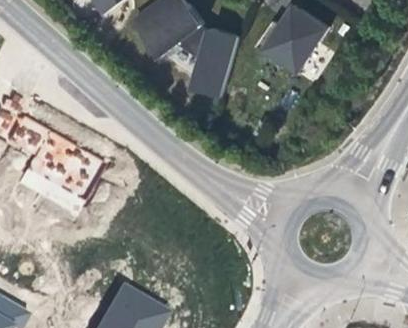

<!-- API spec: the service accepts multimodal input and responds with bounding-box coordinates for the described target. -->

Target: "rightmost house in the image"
[254,4,332,80]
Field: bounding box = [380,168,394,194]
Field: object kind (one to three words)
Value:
car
